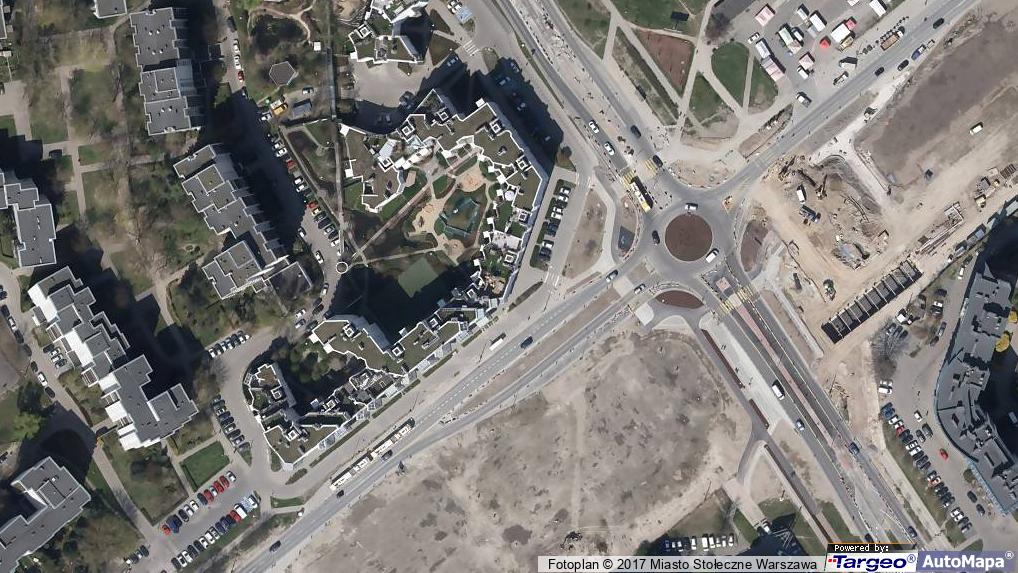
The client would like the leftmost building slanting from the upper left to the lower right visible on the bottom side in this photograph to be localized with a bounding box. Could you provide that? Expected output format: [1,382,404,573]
[28,265,211,451]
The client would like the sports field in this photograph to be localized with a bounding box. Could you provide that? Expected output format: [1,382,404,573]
[398,257,438,312]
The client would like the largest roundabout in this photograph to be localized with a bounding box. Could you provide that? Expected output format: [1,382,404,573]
[642,193,737,284]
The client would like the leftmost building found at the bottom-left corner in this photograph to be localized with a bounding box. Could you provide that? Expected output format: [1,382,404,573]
[0,452,105,573]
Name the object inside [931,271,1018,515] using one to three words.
building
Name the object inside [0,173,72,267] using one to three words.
building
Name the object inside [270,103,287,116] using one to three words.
vehicle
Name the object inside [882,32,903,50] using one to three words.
vehicle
